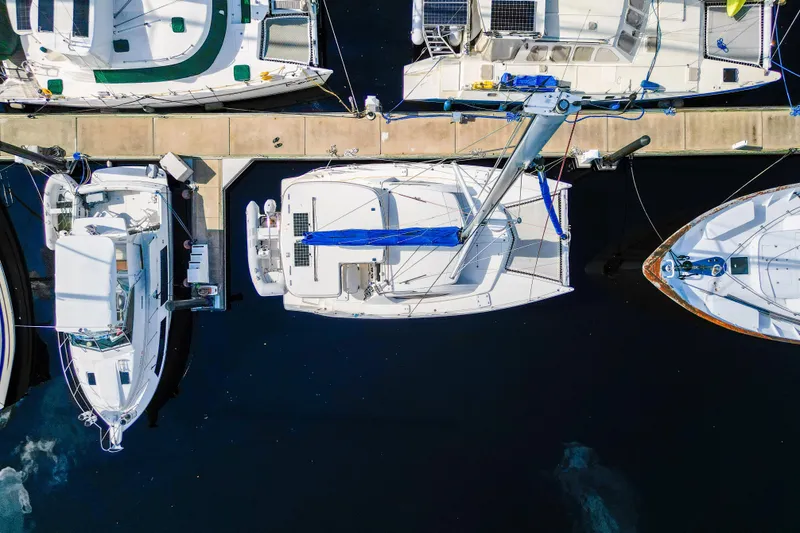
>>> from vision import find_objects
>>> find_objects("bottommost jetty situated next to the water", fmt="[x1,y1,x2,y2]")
[192,158,230,309]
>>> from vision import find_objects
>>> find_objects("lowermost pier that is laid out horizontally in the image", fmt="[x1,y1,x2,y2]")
[0,106,800,188]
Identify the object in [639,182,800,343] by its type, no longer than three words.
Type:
boat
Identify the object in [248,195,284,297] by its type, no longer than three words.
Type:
boat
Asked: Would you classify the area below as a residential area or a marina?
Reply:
marina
